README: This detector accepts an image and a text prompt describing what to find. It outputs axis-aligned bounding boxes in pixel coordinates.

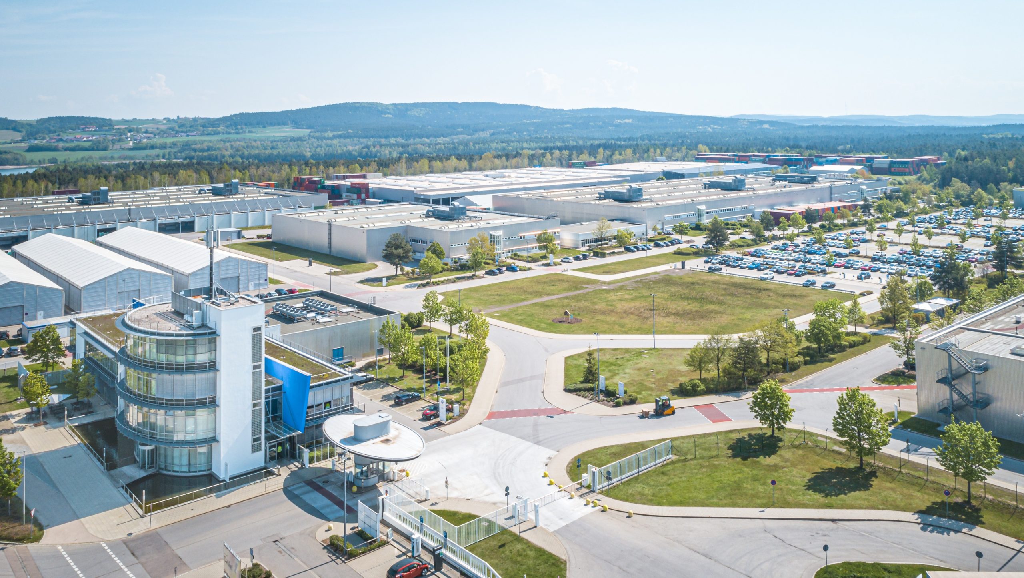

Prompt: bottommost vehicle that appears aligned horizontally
[384,555,431,578]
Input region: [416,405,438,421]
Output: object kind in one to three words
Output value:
car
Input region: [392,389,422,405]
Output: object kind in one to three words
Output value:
car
